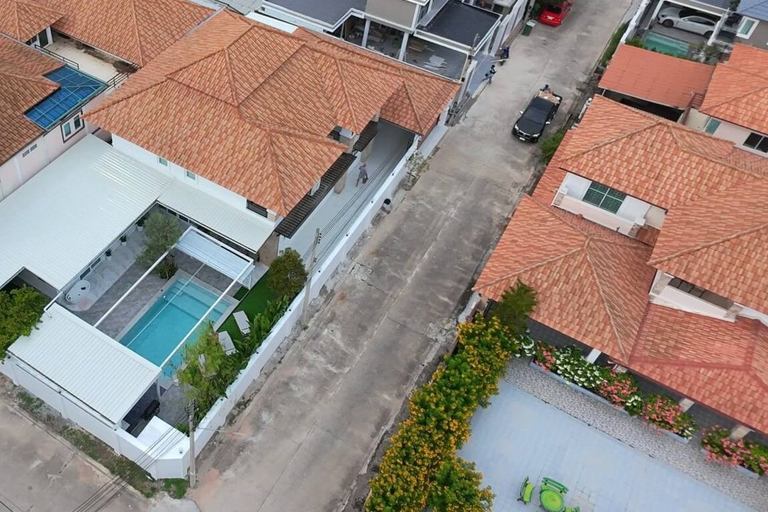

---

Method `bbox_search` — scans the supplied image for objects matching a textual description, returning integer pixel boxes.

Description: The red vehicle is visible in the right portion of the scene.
[540,0,574,21]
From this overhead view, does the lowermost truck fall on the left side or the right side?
right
